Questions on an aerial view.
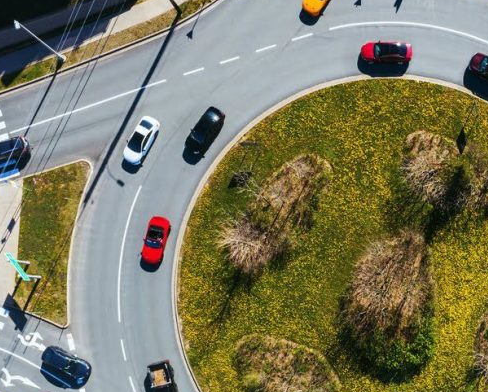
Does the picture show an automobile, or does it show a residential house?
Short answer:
automobile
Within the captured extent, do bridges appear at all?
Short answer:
No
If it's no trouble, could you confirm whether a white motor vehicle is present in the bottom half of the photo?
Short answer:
No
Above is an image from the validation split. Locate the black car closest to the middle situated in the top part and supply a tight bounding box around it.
[188,107,225,153]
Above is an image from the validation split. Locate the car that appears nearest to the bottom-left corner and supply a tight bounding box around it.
[41,347,92,381]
